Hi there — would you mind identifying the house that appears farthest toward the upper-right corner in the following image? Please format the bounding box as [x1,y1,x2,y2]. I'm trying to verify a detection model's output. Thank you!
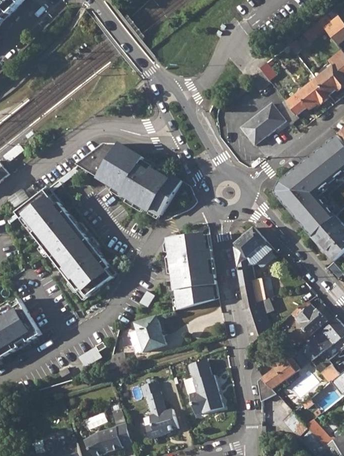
[324,14,344,44]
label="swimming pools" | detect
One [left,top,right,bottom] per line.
[314,386,342,411]
[132,386,142,400]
